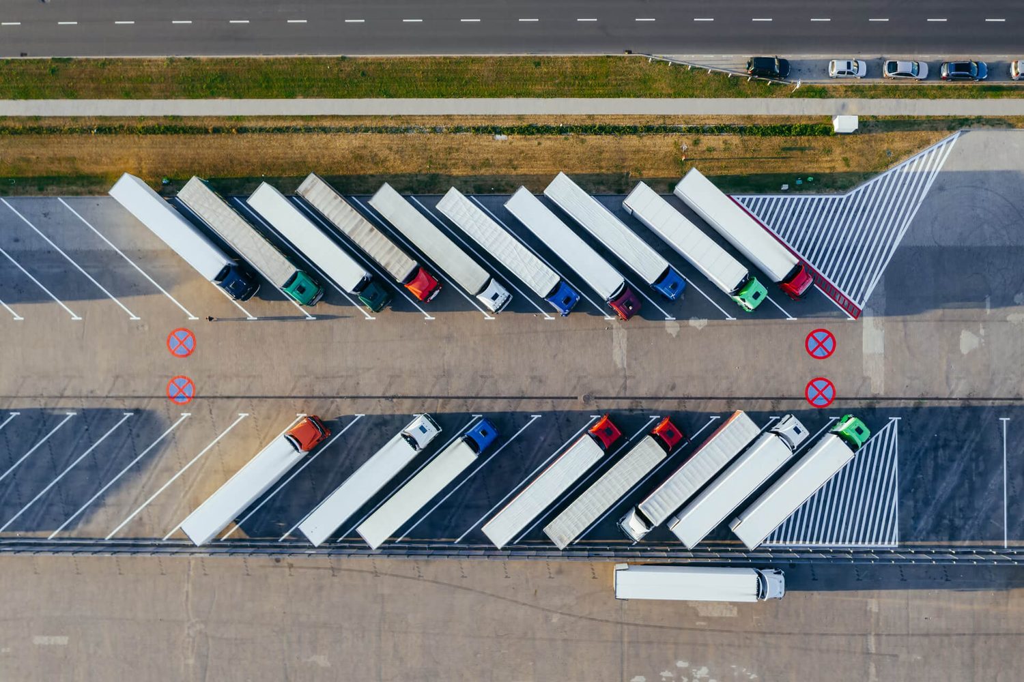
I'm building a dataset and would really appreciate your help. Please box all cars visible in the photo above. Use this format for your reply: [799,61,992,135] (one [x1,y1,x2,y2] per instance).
[880,57,926,79]
[745,53,788,77]
[1008,61,1024,80]
[826,57,865,78]
[937,57,985,80]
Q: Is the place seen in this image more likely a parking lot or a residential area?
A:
parking lot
